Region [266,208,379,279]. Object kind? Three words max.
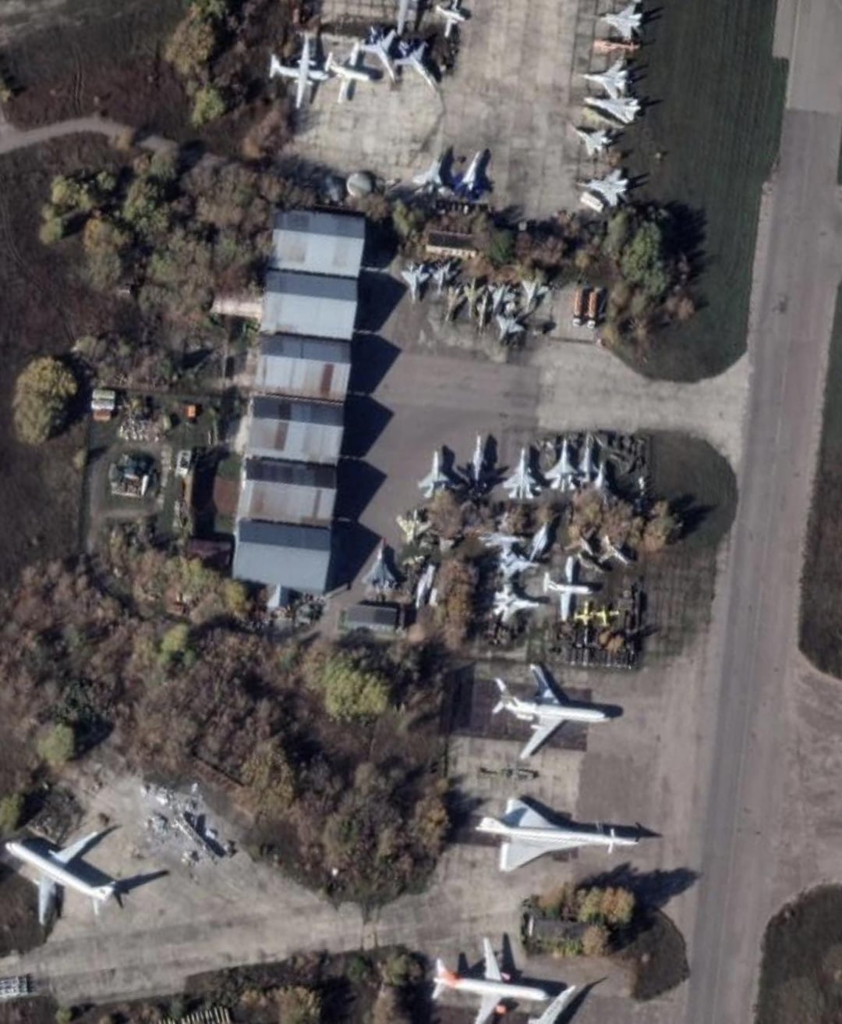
hangar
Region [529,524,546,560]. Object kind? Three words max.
airplane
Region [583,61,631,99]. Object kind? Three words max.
airplane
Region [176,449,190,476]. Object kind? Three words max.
vehicle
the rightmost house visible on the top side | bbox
[426,230,478,256]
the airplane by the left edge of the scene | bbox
[6,833,115,918]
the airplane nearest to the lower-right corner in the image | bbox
[519,981,578,1024]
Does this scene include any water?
No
